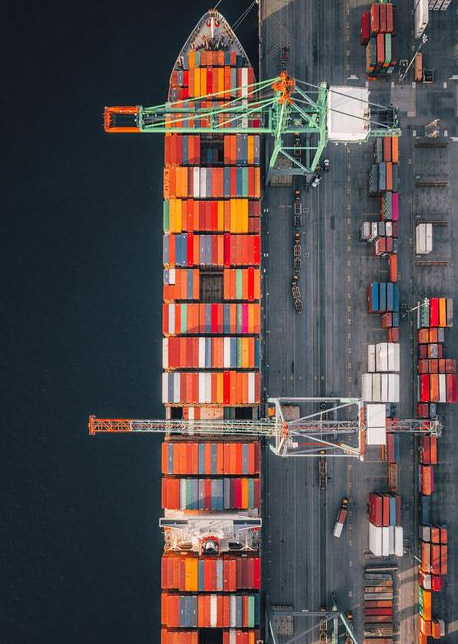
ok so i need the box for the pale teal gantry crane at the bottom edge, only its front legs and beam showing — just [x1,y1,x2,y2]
[268,598,362,644]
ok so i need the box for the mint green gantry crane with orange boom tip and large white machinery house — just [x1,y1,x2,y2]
[103,69,405,192]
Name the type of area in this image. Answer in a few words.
port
